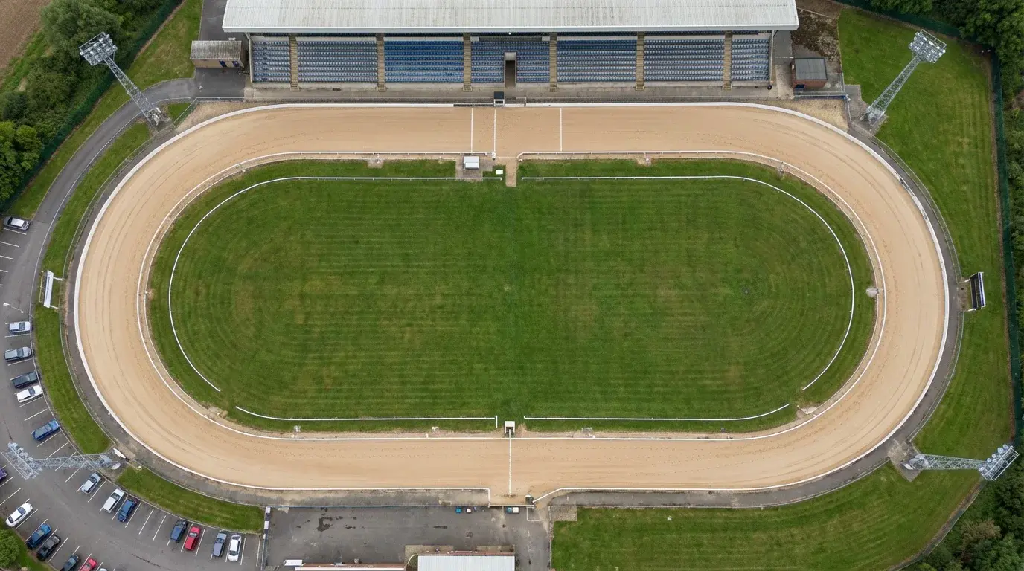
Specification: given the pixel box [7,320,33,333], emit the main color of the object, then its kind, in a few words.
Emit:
white vehicle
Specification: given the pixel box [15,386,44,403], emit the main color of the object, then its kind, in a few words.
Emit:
white car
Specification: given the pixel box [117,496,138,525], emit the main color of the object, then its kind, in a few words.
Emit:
blue car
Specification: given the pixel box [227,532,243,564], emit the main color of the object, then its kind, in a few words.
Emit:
white car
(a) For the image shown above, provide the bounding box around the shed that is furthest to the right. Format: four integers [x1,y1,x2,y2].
[792,59,831,87]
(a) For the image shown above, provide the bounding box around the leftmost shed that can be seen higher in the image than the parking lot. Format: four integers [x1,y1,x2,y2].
[186,38,241,67]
